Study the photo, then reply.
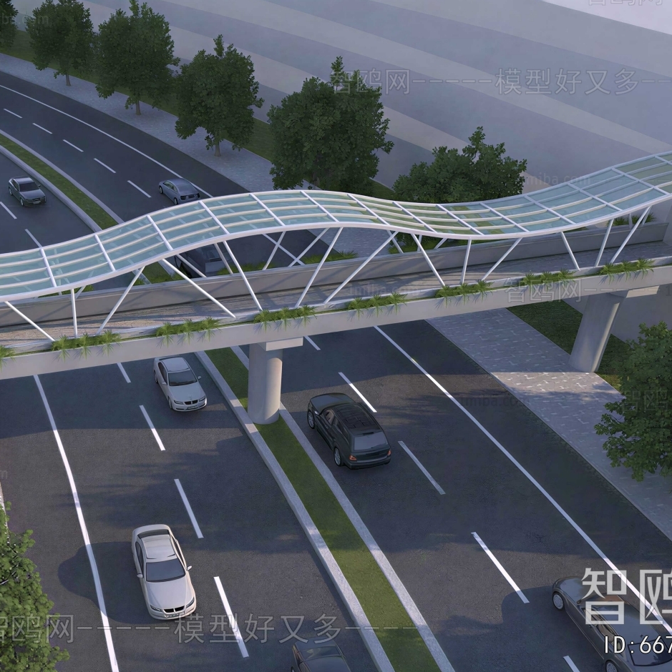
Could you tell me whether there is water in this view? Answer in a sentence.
No, the picture contains no water.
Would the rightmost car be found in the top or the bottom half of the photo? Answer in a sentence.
The rightmost car is in the bottom half of the image.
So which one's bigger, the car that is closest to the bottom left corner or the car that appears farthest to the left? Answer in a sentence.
It is the car that is closest to the bottom left corner that is larger, not the car that appears farthest to the left.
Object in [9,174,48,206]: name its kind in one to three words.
car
